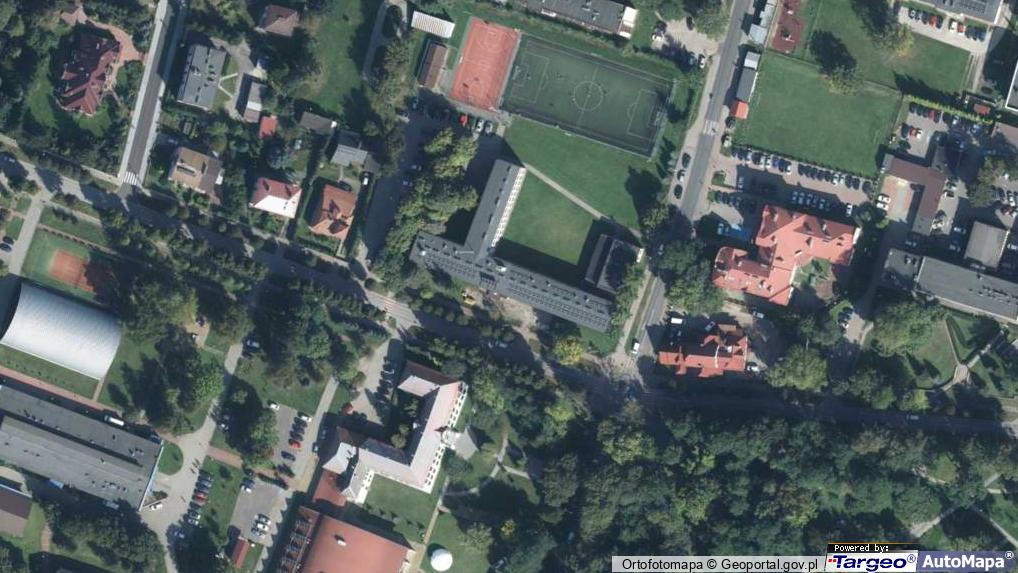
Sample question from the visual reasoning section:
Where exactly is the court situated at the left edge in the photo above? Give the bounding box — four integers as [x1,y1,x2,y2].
[20,228,124,309]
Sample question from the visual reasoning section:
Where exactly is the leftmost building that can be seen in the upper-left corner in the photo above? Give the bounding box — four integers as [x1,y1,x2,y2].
[56,36,124,113]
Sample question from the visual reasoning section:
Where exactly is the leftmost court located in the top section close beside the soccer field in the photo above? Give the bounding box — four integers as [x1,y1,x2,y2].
[444,14,523,112]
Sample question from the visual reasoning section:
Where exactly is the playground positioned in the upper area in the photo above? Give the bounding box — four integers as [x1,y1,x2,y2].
[771,0,804,54]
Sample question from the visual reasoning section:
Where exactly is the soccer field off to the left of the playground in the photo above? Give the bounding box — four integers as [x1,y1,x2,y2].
[497,27,680,156]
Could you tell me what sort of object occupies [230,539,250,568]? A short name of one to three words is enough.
shed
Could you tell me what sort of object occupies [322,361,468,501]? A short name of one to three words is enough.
building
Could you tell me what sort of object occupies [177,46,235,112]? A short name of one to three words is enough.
house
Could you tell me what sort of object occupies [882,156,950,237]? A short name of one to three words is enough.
building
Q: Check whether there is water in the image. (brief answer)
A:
No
